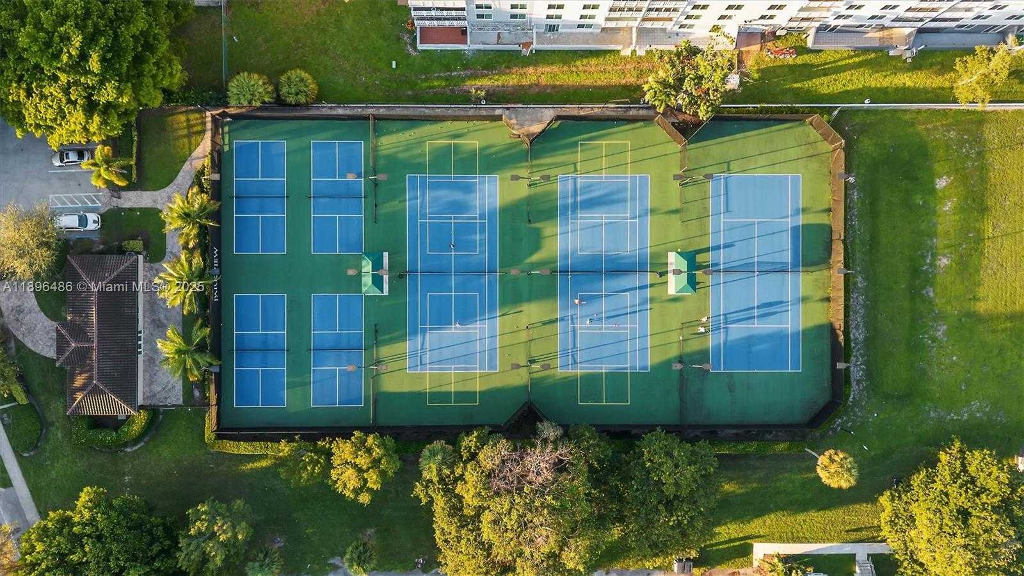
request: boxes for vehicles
[56,212,102,231]
[52,150,94,168]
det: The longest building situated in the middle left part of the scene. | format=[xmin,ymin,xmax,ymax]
[55,254,146,421]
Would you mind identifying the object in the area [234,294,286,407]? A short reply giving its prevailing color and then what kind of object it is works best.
blue sports court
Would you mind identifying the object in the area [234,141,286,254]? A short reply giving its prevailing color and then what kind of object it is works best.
blue sports court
